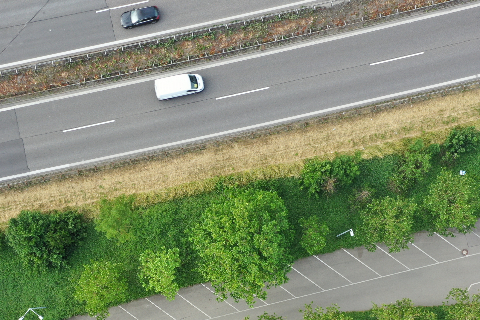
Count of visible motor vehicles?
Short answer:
2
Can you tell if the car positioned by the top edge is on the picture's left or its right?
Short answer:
left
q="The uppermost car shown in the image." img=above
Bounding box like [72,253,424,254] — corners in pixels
[120,4,161,29]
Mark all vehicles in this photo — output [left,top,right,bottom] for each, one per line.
[154,72,204,101]
[120,4,161,29]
